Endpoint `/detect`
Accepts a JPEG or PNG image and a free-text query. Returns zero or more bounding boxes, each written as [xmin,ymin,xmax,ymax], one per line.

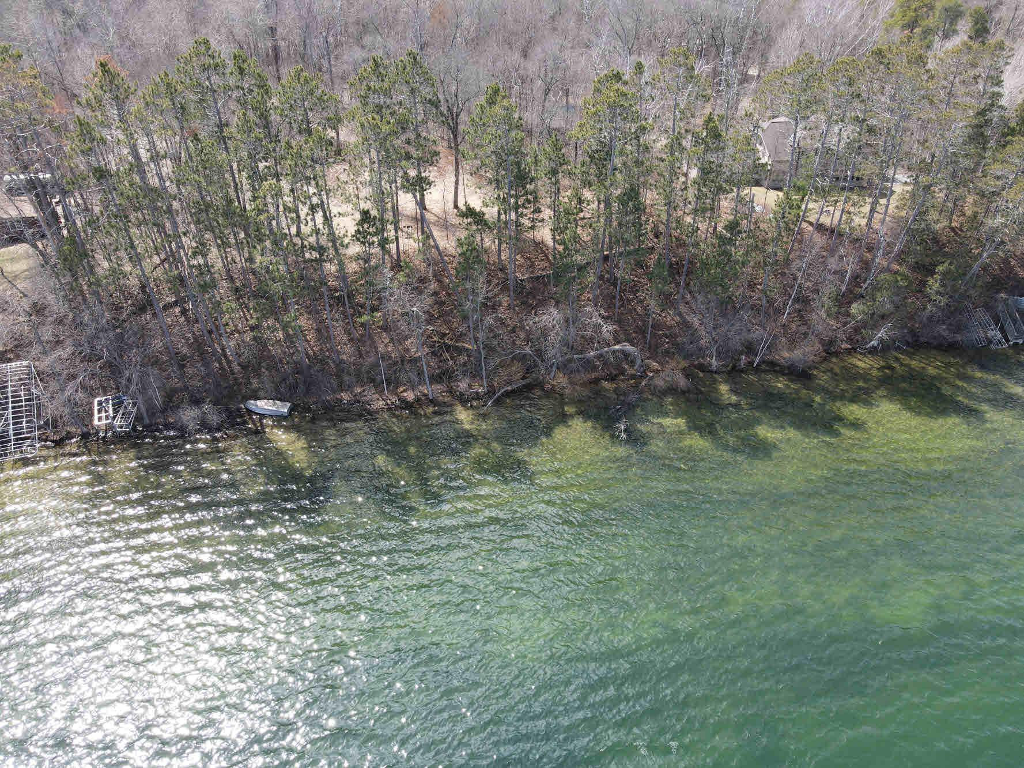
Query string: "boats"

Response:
[248,399,295,416]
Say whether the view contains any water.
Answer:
Yes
